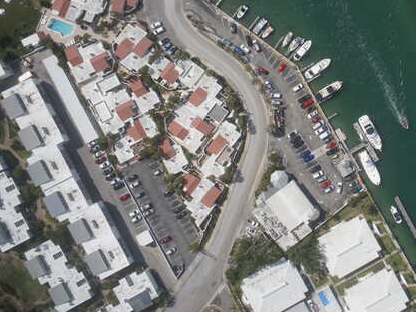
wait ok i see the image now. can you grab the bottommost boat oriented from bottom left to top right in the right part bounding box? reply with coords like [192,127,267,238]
[313,81,343,102]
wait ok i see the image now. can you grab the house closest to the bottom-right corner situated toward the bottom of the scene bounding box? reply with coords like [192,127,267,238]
[343,265,408,312]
